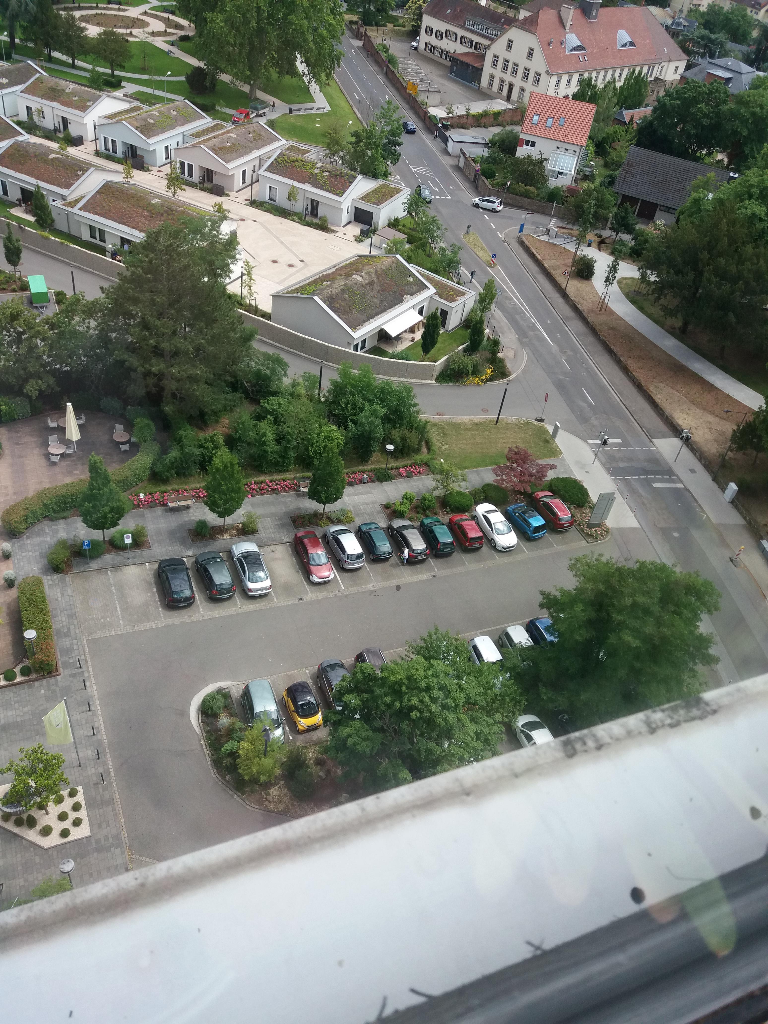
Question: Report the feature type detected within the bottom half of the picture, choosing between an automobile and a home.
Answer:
automobile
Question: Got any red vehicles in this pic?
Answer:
Yes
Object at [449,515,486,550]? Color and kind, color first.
red car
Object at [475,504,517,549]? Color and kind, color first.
white car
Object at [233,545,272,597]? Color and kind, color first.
gray car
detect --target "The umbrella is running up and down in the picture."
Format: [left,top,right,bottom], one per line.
[67,403,81,455]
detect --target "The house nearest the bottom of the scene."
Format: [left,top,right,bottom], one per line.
[268,253,476,353]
